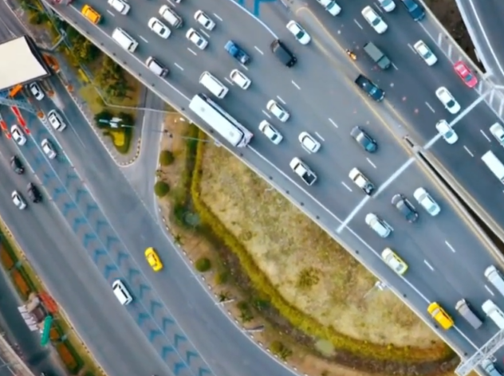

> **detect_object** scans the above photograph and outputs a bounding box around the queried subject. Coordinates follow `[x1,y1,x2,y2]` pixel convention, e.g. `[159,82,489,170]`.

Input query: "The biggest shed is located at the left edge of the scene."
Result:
[18,297,54,332]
